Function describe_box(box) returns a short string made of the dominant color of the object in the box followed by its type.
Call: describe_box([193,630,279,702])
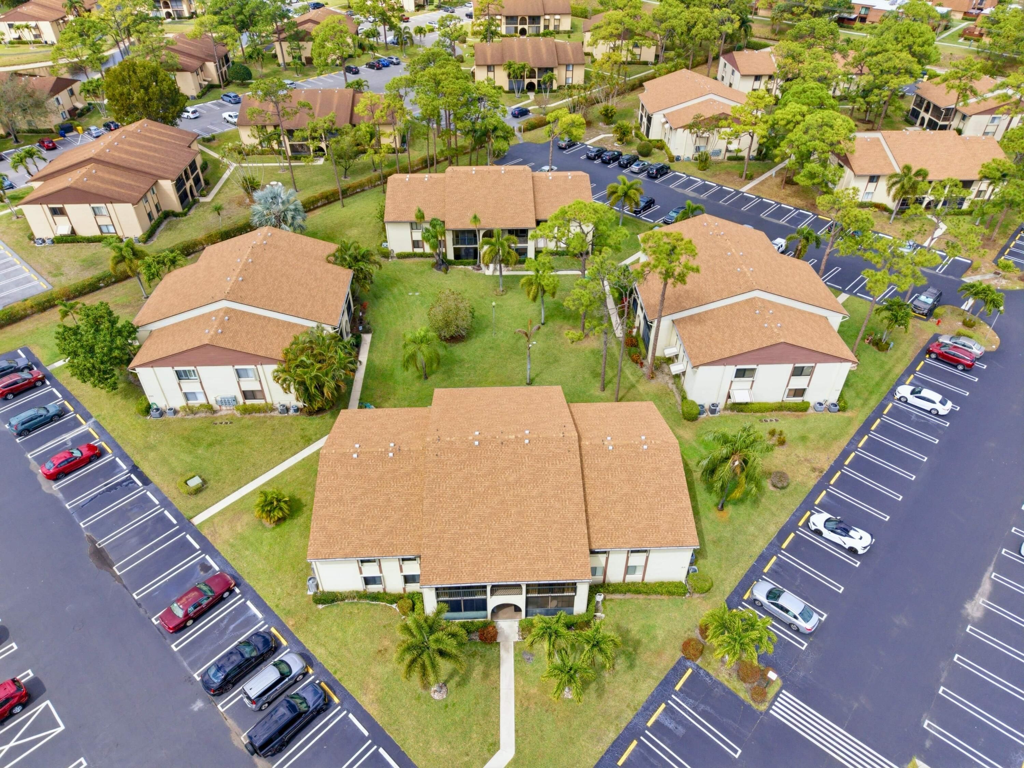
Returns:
blue car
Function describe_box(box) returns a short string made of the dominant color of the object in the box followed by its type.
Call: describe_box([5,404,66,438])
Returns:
blue car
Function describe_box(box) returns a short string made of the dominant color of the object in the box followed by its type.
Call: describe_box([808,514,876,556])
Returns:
white car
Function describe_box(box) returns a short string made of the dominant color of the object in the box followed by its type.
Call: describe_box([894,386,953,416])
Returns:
white car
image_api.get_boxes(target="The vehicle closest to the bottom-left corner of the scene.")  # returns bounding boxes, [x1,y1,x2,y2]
[0,670,39,716]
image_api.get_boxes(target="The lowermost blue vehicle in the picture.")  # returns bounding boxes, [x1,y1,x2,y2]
[244,684,325,761]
